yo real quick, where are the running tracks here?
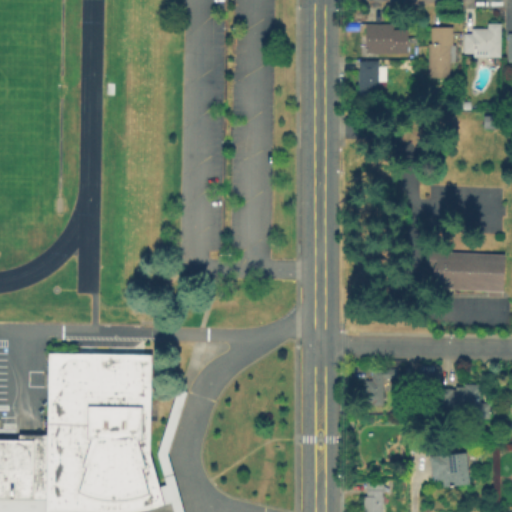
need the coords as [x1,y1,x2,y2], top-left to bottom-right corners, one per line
[0,0,105,294]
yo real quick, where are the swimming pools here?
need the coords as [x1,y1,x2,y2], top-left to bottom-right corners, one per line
[473,62,499,96]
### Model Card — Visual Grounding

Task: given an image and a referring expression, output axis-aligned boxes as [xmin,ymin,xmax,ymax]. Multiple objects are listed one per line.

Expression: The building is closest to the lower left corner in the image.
[0,354,165,512]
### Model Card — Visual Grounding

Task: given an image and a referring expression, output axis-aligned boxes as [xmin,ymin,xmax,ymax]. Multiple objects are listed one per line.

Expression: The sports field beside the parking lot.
[0,0,82,272]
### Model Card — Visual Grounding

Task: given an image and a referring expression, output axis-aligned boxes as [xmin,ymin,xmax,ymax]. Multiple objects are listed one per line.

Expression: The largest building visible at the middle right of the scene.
[432,252,506,296]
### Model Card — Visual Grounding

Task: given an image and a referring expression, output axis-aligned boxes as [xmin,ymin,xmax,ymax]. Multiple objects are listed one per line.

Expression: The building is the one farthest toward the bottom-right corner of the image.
[430,454,470,488]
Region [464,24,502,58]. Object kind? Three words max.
house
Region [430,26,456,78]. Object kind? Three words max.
house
